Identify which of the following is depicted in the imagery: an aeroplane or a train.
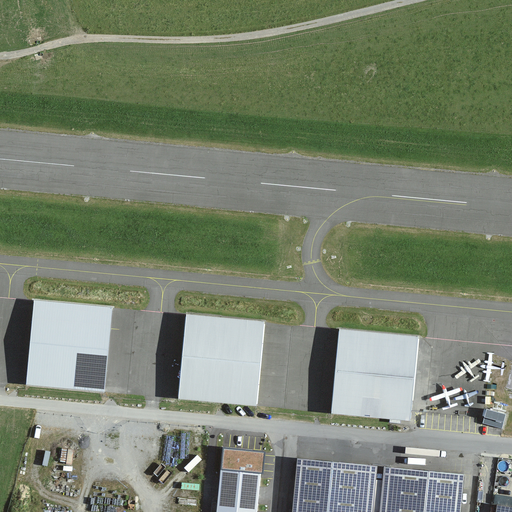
aeroplane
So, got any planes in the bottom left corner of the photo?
No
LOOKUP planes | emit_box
[430,385,464,409]
[454,358,481,381]
[480,352,504,382]
[454,390,479,406]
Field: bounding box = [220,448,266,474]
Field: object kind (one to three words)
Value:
building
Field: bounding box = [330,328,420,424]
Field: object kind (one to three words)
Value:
hangar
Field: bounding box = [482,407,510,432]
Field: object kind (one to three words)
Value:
building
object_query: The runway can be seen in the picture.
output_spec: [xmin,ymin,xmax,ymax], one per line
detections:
[0,129,512,236]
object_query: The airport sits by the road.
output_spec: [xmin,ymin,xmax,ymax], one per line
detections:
[0,129,512,437]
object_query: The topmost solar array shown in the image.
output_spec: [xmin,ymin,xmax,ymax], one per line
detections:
[72,353,106,388]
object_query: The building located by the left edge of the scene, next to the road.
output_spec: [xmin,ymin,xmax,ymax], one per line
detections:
[24,298,114,392]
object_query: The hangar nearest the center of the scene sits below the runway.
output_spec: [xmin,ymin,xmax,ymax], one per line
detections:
[177,312,266,406]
